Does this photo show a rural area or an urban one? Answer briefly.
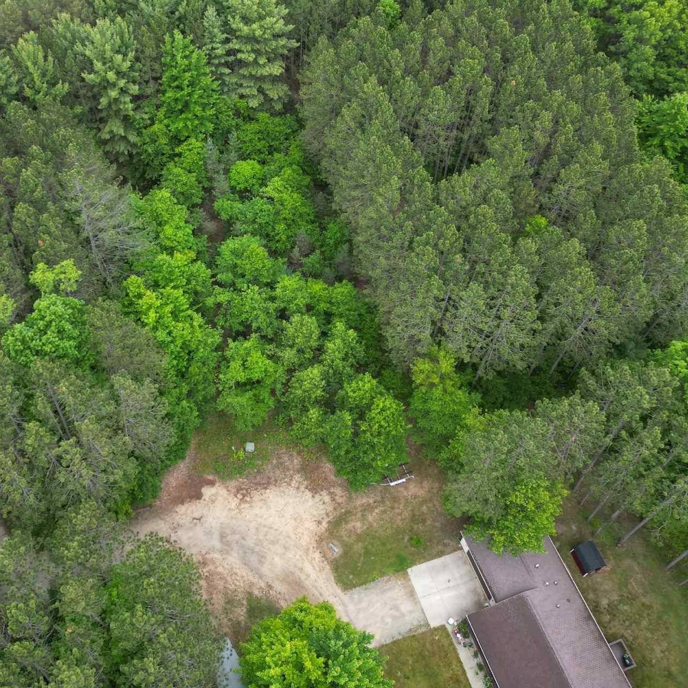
rural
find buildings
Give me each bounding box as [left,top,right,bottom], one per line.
[459,514,633,688]
[567,541,607,579]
